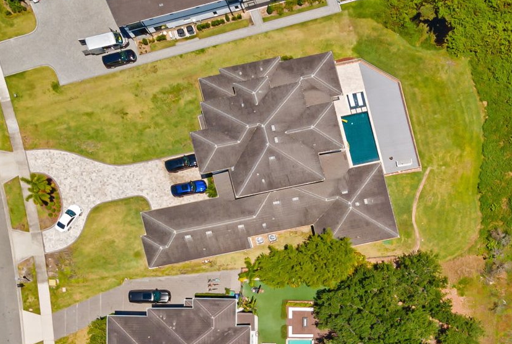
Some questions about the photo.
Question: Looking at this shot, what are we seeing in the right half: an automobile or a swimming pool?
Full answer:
Looking in the right half, you will find a swimming pool.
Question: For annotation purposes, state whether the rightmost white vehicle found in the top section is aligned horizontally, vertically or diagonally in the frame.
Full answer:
I'd say the rightmost white vehicle found in the top section is aligned horizontally in the picture.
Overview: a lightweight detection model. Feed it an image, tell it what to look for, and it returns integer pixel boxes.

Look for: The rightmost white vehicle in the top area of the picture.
[74,30,126,53]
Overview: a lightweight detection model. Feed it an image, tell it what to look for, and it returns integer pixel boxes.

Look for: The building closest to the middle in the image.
[141,50,400,270]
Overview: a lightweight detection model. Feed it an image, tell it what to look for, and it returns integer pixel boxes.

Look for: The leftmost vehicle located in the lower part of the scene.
[52,202,85,235]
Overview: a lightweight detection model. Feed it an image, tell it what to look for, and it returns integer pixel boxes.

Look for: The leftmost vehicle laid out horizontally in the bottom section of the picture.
[129,286,170,305]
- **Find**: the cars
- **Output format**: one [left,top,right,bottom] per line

[52,202,85,235]
[101,47,138,68]
[163,153,198,173]
[129,286,170,305]
[170,180,207,197]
